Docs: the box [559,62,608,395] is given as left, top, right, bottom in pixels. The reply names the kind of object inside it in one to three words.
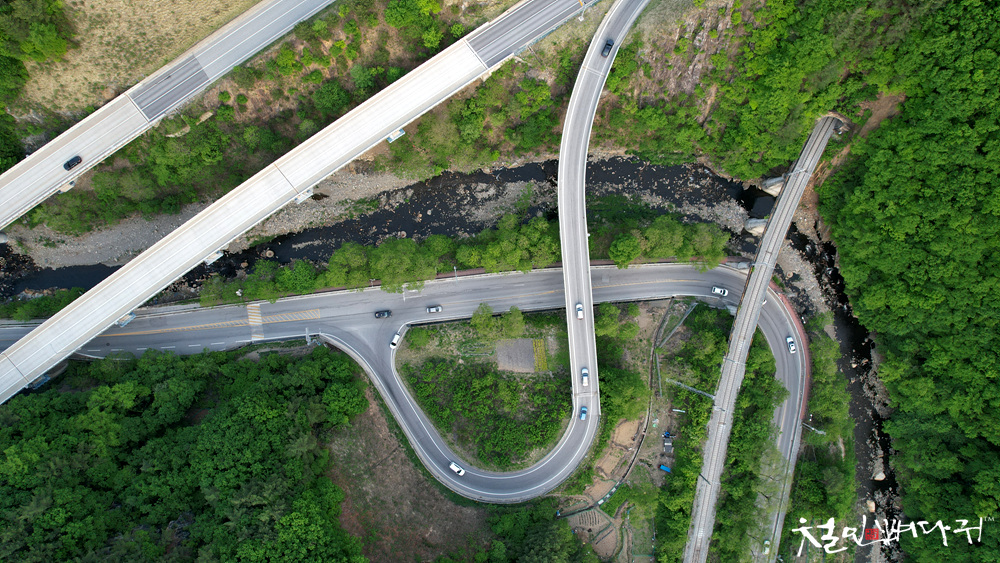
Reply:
bridge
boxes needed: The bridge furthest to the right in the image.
[712,123,838,405]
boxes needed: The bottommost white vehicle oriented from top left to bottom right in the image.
[449,462,466,476]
